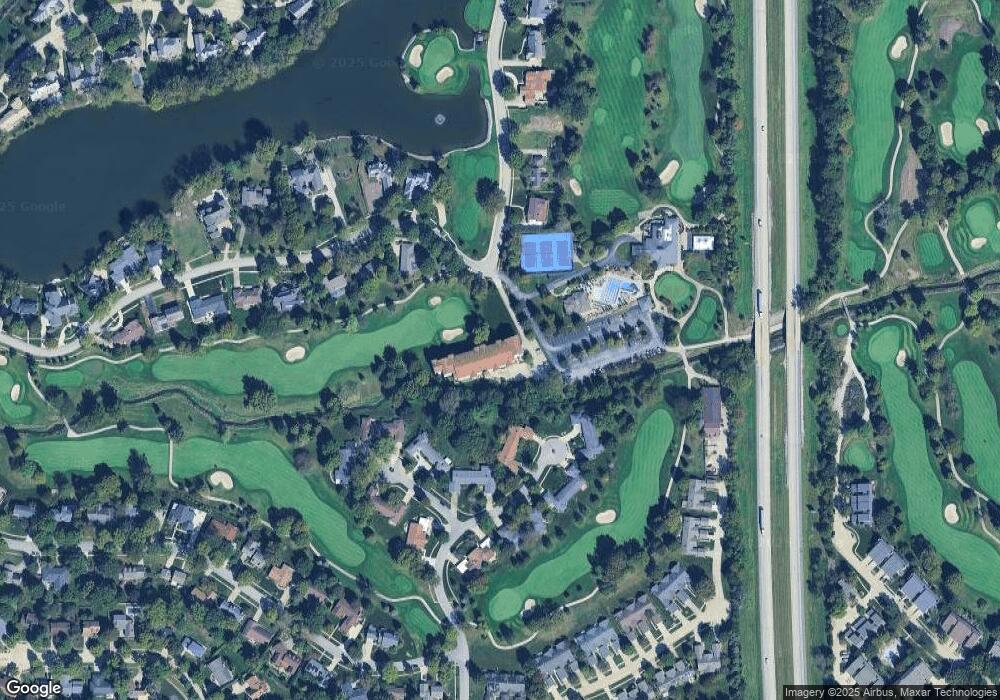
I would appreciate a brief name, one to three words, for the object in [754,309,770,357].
bridge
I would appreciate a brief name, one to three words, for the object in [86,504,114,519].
house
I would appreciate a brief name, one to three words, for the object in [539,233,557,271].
tennis court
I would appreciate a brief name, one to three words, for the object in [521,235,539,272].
tennis court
